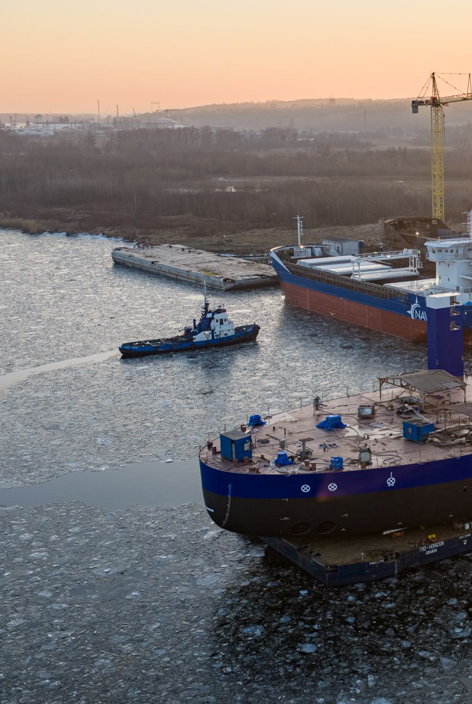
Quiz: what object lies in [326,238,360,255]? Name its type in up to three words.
shed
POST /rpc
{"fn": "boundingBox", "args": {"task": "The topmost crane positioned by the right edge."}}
[413,73,472,213]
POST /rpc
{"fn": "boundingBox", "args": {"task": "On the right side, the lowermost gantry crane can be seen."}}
[346,247,410,282]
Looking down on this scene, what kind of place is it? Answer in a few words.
port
